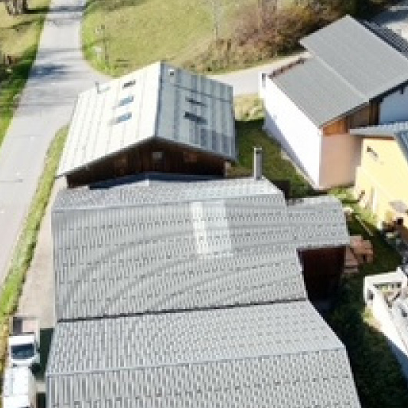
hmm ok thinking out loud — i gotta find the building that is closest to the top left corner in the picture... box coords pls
[55,61,239,183]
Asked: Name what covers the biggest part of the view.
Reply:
buildings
